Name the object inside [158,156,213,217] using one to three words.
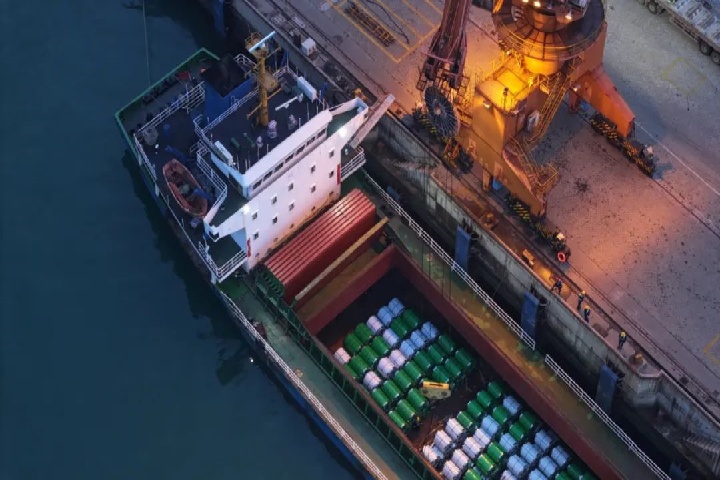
boat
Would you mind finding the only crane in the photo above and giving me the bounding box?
[409,0,661,379]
